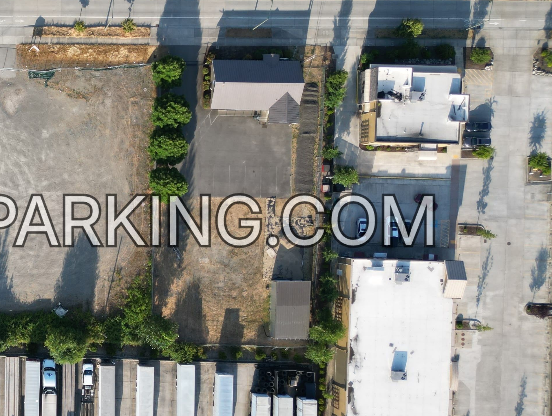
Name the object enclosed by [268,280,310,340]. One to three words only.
shed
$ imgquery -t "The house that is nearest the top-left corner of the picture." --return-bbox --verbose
[209,52,310,123]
